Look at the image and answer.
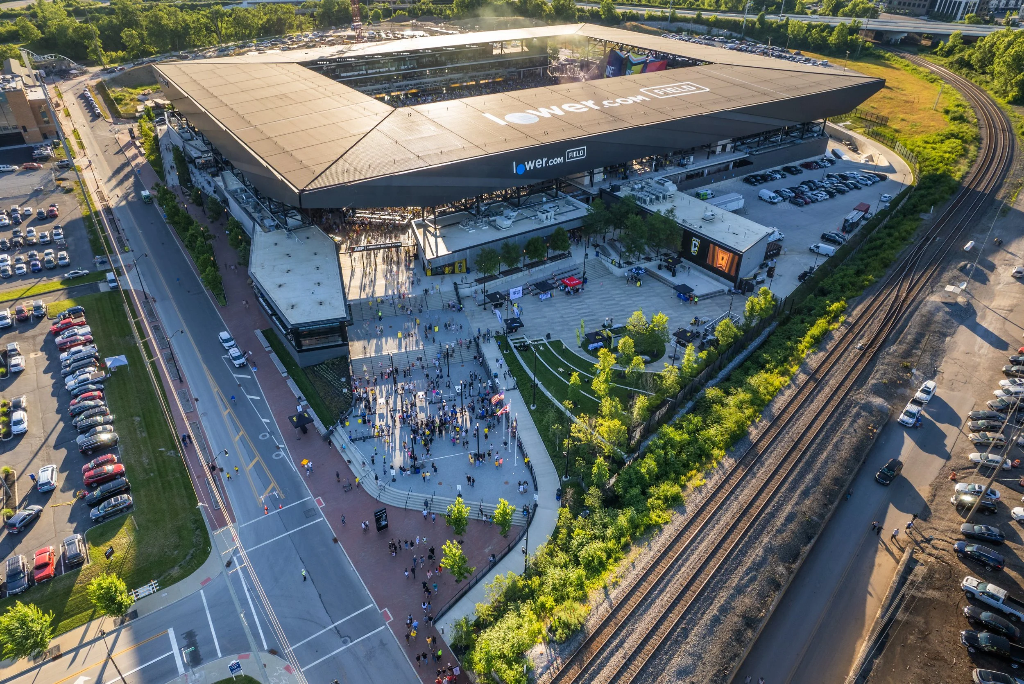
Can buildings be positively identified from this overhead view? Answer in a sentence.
Yes, the photo shows a building.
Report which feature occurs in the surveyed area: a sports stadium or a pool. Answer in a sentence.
There is a sports stadium in the scene.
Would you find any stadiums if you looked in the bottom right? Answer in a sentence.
No, no stadium is visible in the bottom right.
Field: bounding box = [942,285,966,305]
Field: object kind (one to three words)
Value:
shed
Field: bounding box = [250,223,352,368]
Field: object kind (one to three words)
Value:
building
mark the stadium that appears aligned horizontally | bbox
[150,23,886,229]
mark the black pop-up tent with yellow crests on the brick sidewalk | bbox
[285,413,315,444]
